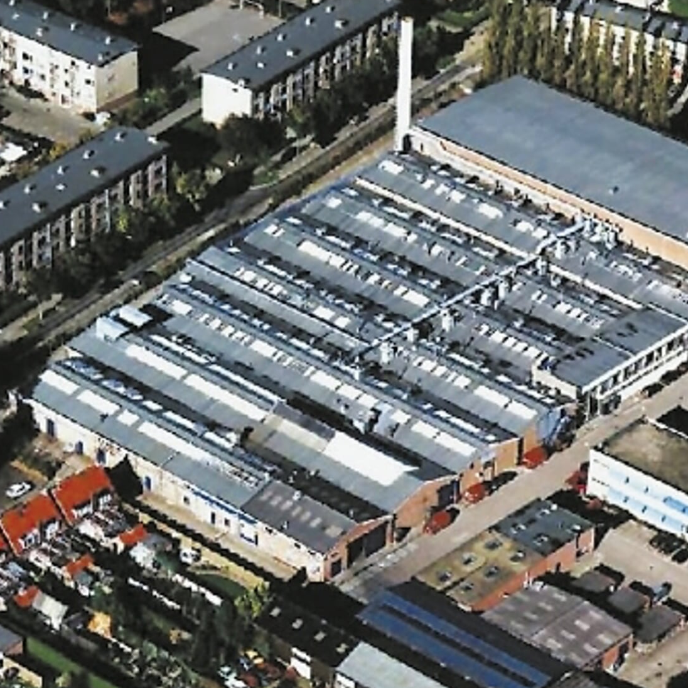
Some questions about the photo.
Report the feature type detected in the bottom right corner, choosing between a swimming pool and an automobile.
automobile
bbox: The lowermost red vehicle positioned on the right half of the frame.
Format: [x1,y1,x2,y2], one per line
[428,512,457,530]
